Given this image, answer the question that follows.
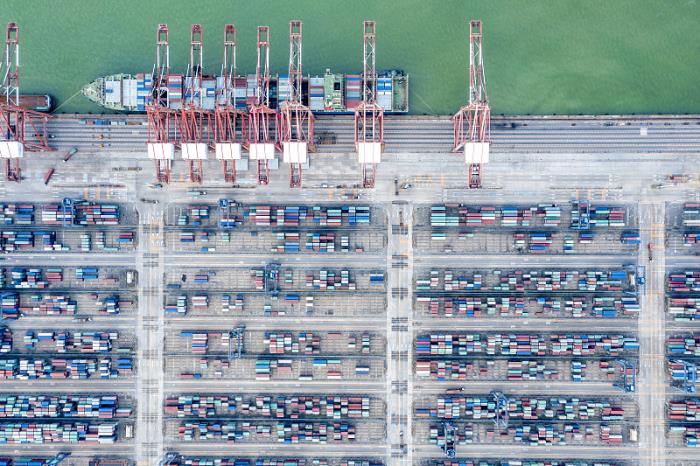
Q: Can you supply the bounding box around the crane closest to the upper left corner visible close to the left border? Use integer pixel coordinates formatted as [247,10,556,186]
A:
[0,18,61,182]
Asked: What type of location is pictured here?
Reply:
port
